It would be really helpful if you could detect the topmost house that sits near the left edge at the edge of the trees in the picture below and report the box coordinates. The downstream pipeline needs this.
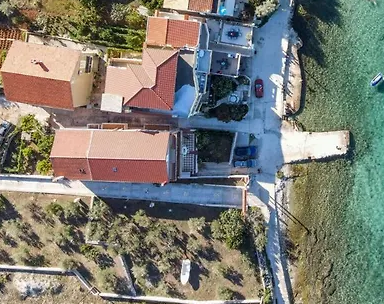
[1,40,100,109]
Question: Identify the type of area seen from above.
residential area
